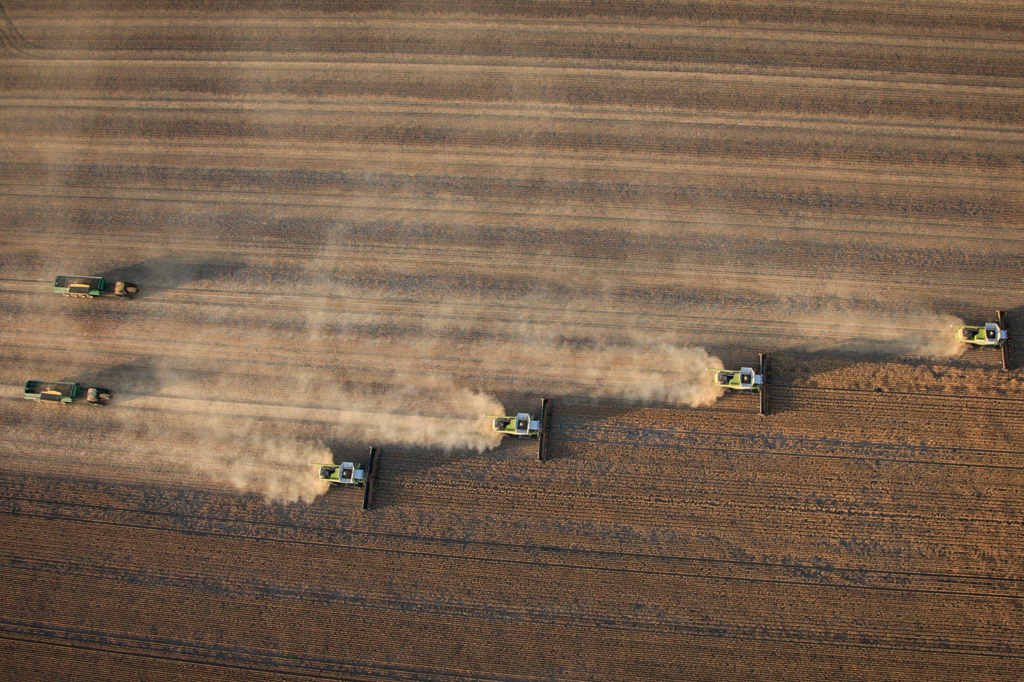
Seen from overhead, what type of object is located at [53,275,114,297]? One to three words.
trailer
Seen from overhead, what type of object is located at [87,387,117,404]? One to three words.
work vehicle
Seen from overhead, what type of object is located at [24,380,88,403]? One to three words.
trailer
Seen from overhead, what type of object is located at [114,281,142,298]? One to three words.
work vehicle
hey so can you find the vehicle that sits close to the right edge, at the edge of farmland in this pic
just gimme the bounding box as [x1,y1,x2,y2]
[947,309,1015,371]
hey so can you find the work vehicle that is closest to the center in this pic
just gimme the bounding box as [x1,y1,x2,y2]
[482,398,554,461]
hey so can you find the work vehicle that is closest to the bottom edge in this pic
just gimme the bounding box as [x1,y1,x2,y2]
[307,446,383,511]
